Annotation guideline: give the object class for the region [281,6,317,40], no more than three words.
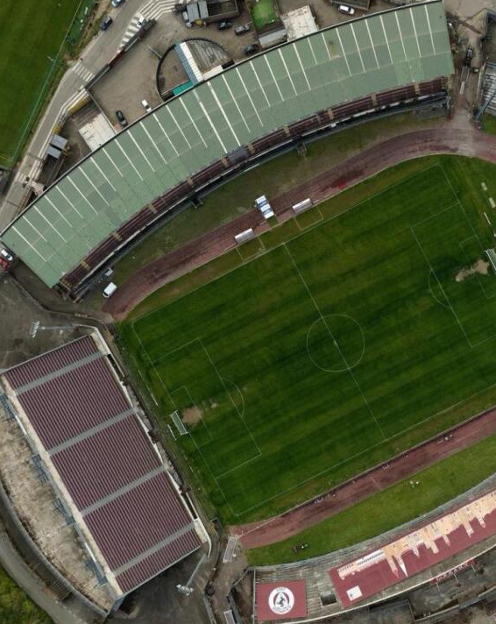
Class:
building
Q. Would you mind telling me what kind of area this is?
sports ground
